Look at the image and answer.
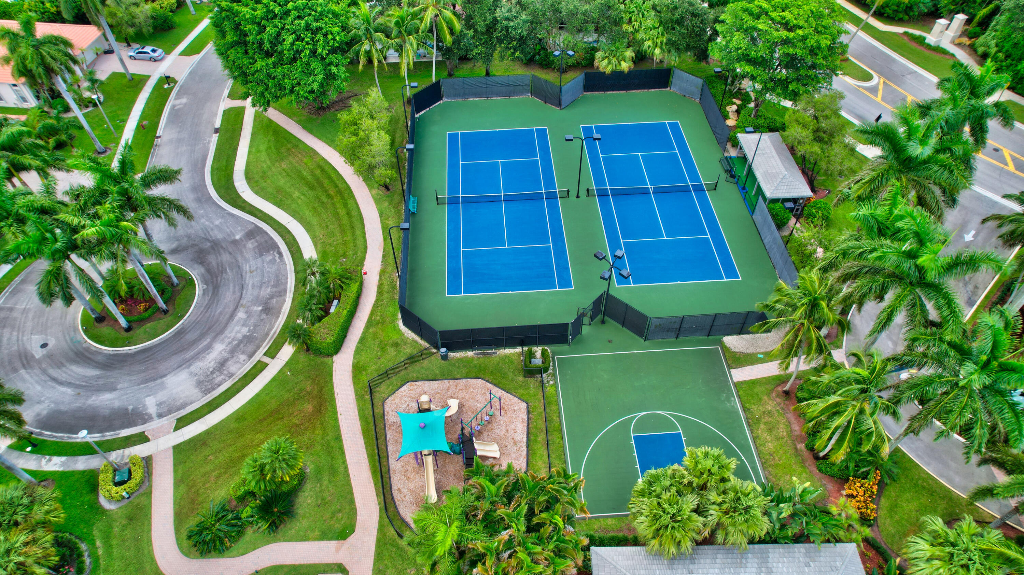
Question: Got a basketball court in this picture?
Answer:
Yes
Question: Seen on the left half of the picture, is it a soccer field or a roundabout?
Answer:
roundabout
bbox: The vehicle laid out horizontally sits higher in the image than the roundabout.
[125,44,165,62]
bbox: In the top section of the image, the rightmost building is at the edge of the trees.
[736,132,813,216]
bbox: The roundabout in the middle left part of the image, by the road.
[77,262,199,349]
